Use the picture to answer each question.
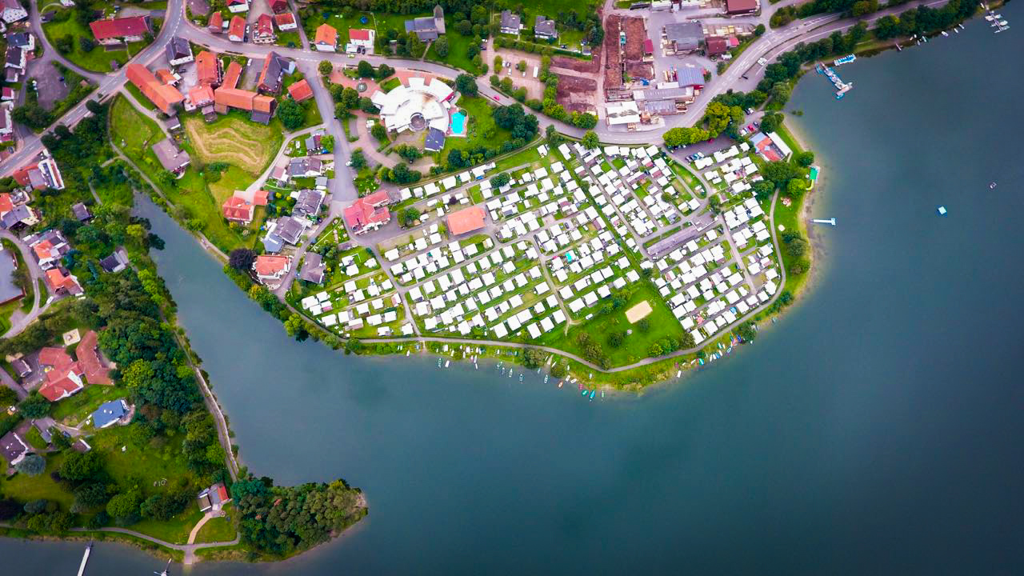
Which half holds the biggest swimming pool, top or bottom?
top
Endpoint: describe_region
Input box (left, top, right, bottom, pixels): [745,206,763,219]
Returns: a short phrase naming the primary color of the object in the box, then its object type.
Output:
white vehicle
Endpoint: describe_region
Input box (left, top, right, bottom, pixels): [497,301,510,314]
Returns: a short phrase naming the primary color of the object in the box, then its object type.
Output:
white vehicle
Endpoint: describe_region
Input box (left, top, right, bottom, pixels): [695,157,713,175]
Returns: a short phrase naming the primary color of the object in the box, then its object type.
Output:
white camper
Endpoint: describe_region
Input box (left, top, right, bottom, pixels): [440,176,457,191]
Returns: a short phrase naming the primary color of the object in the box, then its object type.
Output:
white camper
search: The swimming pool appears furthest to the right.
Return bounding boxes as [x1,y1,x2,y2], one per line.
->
[447,106,468,137]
